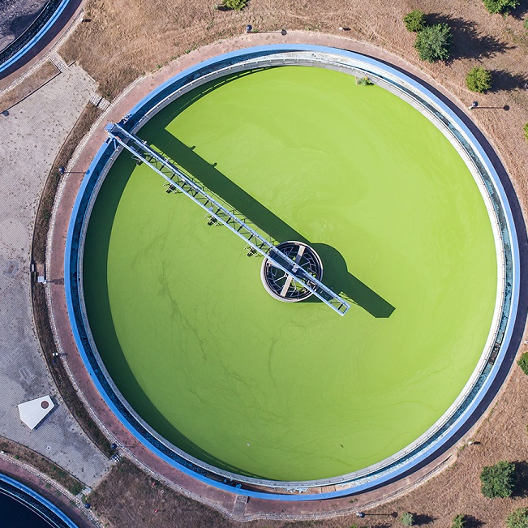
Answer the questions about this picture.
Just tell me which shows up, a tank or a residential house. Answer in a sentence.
The image shows a tank.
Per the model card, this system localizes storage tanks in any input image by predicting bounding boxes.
[65,44,521,501]
[0,0,71,74]
[0,473,79,528]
